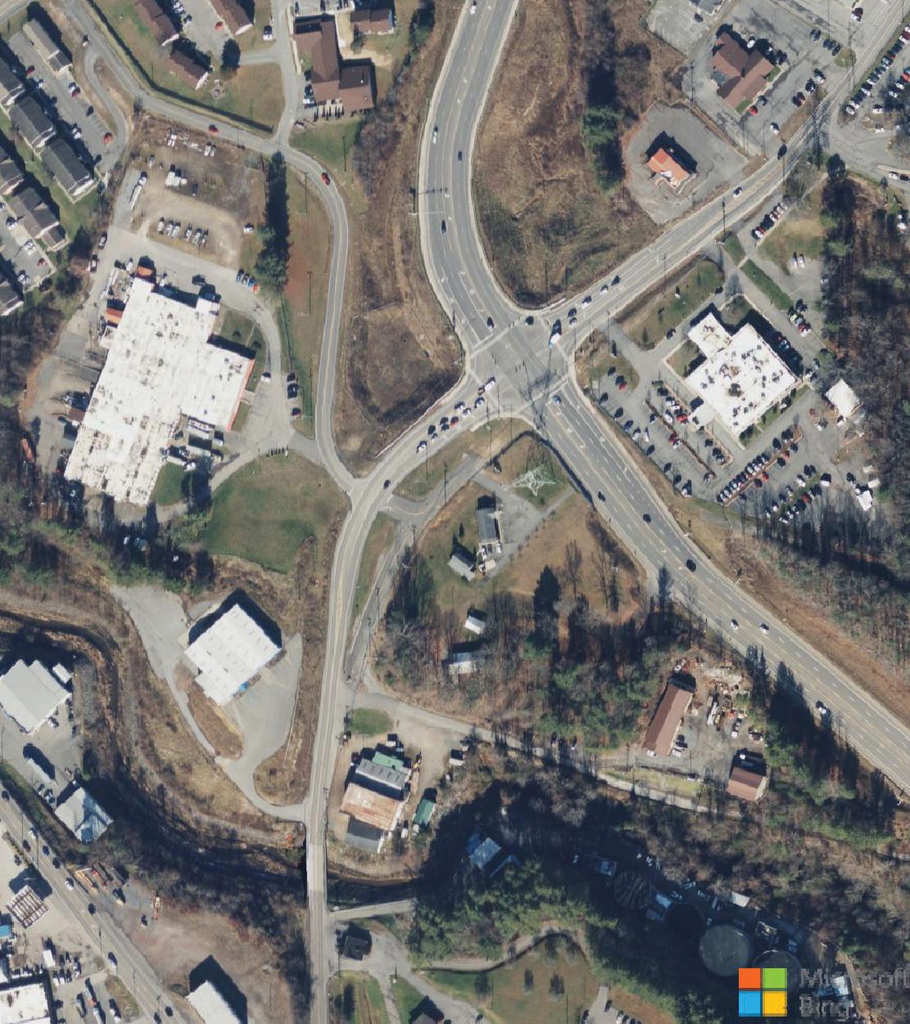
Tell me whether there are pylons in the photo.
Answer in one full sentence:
Yes, a pylon is visible in the scene.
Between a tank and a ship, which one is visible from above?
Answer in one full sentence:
I can see a tank in this picture.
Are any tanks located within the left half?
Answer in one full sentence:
No, within the left half there is no tank.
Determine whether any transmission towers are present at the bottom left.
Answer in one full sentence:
No, no transmission tower can be made out at the bottom left.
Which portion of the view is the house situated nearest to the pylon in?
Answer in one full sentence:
Look in the center portion of the view to spot the house situated nearest to the pylon.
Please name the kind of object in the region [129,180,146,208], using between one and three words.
vehicle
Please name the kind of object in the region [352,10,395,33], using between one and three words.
house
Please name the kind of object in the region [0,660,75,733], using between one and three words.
building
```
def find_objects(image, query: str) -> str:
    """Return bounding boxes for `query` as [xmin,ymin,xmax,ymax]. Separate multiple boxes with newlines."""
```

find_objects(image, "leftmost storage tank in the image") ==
[613,870,653,910]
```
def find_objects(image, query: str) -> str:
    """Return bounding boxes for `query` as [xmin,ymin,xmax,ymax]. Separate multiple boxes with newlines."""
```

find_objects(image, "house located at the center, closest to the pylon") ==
[477,509,507,547]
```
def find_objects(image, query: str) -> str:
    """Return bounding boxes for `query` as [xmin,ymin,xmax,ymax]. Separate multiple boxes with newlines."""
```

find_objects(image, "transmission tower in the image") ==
[509,460,561,500]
